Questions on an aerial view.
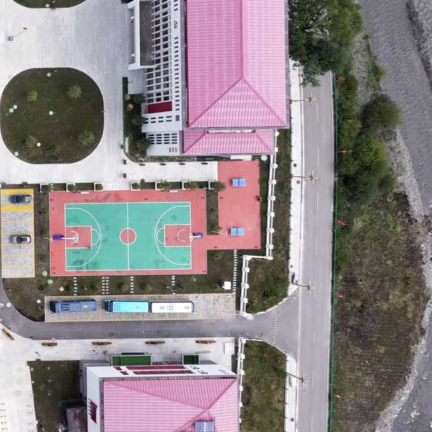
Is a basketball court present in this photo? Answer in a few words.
Yes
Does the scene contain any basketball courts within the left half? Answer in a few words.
Yes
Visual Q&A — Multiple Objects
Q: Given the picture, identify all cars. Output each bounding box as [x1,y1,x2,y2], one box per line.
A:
[11,195,33,204]
[11,235,32,245]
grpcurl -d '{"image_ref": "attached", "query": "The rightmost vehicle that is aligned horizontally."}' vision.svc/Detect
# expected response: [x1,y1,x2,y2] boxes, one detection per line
[152,302,200,317]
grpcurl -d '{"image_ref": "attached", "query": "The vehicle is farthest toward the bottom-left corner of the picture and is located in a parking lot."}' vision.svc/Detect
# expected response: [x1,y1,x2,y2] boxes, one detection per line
[50,301,100,316]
